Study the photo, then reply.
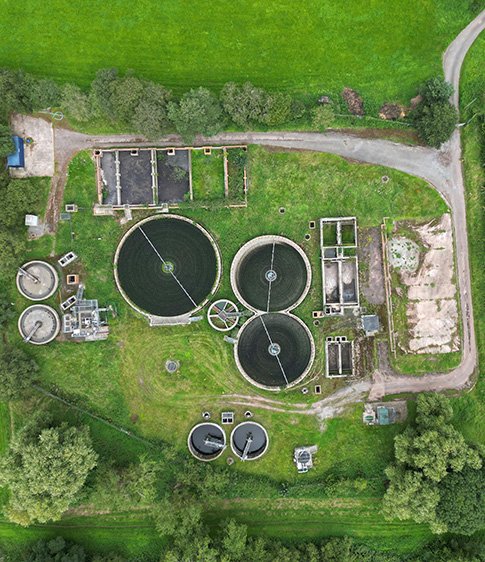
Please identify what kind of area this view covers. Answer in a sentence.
The picture captures an industrial area.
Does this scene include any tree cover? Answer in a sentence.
Yes, some tree cover is visible.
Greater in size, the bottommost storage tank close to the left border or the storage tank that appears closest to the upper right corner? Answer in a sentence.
Compared with the bottommost storage tank close to the left border, the storage tank that appears closest to the upper right corner is the larger one.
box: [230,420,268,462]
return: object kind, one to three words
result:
storage tank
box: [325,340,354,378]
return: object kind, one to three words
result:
storage tank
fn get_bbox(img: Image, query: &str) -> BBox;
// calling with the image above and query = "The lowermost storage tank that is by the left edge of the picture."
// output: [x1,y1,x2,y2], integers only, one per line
[19,304,61,345]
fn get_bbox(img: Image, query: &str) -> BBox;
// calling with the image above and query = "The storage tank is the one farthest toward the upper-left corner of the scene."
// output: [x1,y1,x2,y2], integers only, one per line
[16,260,59,301]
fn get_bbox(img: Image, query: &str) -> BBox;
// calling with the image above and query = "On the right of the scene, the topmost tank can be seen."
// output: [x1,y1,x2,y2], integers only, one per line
[319,217,359,314]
